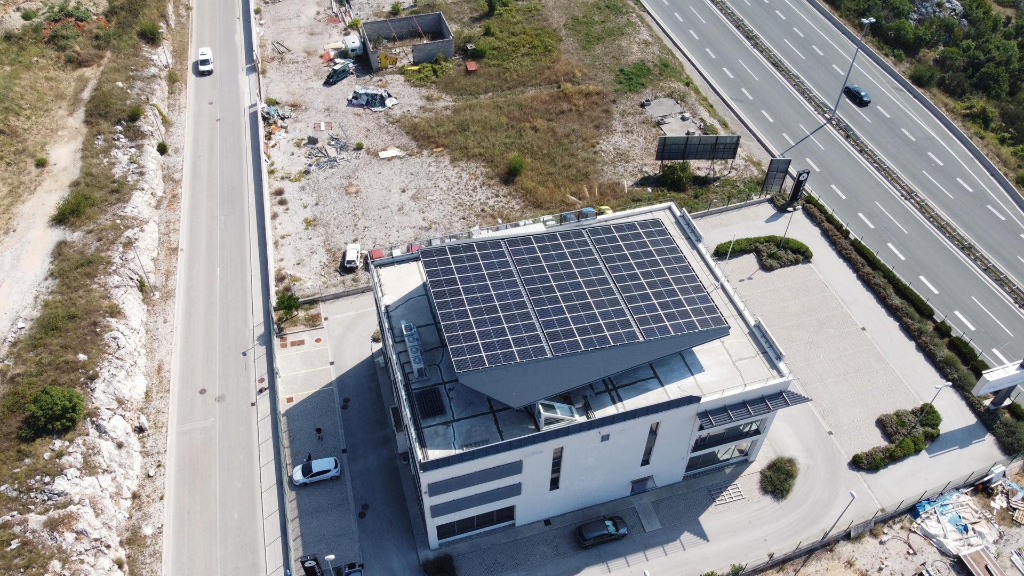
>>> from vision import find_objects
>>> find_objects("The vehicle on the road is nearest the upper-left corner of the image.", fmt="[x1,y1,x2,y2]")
[196,47,215,75]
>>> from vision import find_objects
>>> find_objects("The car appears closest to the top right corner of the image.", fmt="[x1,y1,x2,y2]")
[844,89,870,108]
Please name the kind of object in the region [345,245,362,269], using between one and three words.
car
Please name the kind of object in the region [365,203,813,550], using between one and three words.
building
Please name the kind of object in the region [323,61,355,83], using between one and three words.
vehicle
